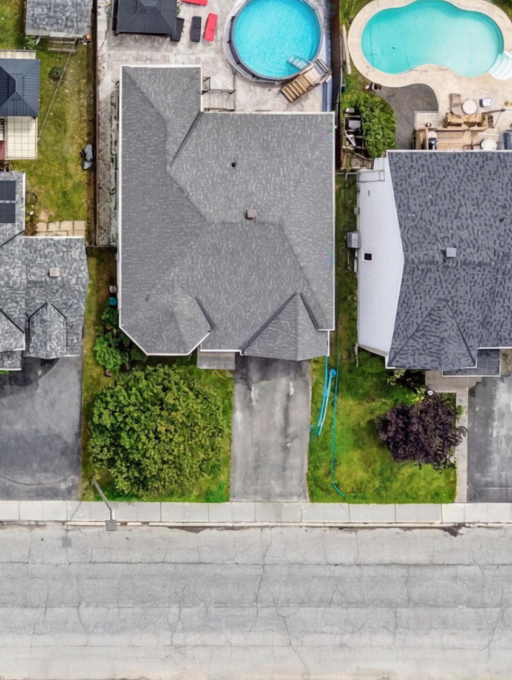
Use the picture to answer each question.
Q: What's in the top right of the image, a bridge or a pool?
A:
pool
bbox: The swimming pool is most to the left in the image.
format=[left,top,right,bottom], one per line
[224,0,324,84]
